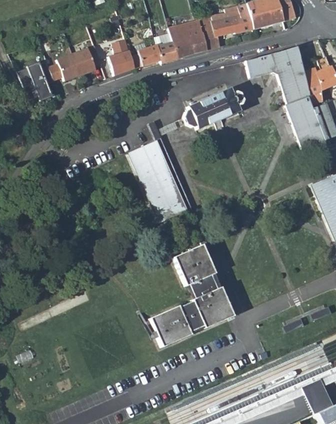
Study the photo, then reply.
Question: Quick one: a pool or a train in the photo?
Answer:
train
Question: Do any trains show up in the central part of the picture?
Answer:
No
